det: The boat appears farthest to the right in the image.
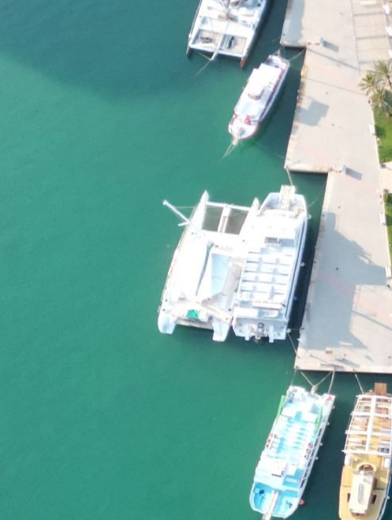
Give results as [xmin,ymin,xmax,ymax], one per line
[337,375,392,520]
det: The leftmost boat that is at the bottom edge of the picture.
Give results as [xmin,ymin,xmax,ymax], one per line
[256,371,334,520]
